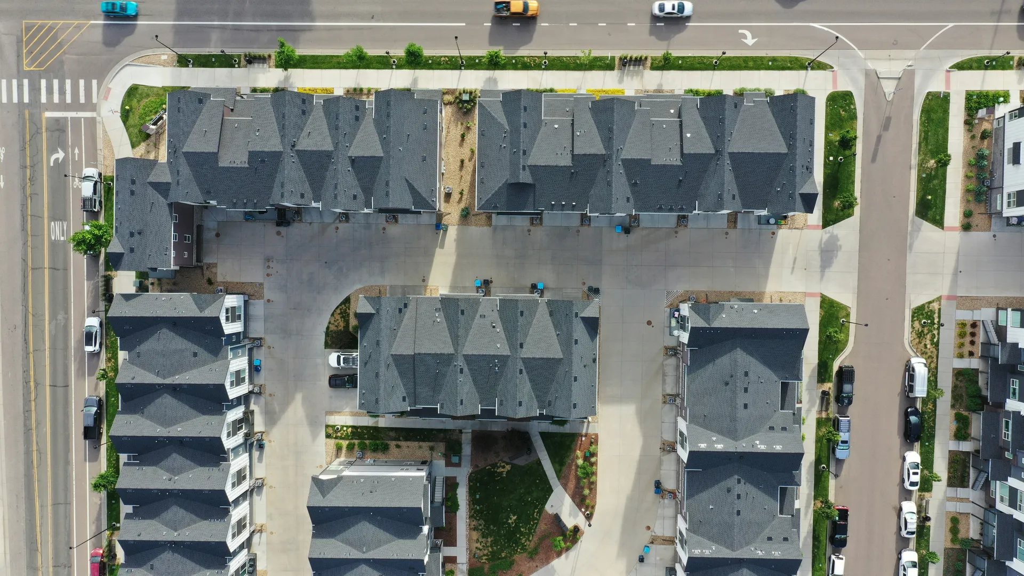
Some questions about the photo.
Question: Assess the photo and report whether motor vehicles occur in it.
Yes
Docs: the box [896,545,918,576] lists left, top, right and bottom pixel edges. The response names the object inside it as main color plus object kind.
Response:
white car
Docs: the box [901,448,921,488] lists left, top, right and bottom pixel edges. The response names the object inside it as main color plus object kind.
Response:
white car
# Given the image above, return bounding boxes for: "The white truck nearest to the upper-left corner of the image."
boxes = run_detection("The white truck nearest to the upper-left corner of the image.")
[78,168,101,213]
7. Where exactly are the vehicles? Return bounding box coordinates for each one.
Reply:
[653,0,693,19]
[896,545,918,576]
[78,168,101,213]
[834,364,855,407]
[830,414,851,457]
[330,372,358,392]
[329,351,358,370]
[828,551,846,576]
[903,354,926,398]
[81,316,102,353]
[97,0,135,18]
[827,502,849,548]
[86,546,107,576]
[493,0,539,21]
[901,448,921,488]
[902,404,922,442]
[898,498,918,536]
[79,395,101,441]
